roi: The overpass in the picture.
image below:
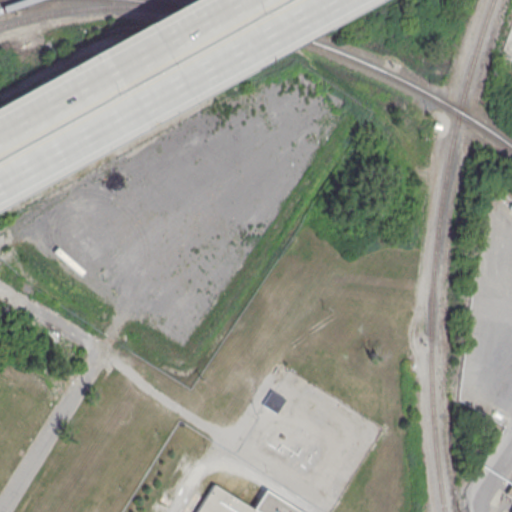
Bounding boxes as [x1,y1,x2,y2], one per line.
[0,0,386,214]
